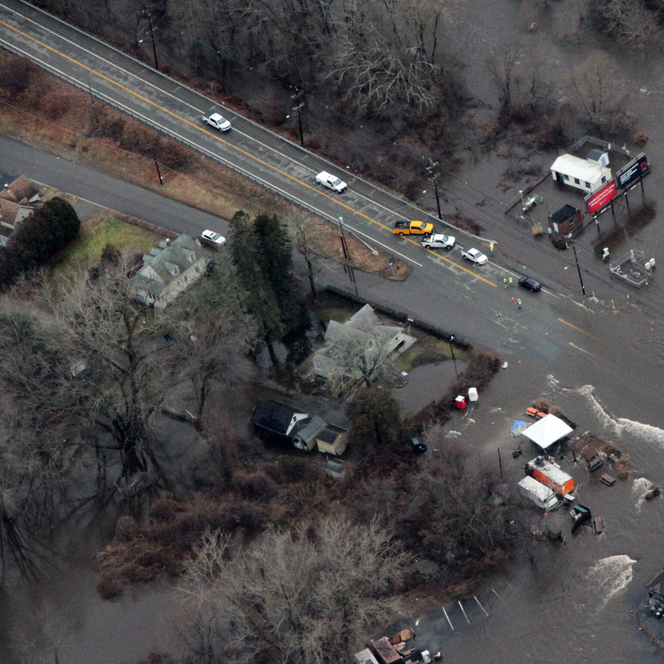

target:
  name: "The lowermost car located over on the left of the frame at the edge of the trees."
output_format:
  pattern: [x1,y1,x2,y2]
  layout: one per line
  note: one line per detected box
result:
[199,226,227,245]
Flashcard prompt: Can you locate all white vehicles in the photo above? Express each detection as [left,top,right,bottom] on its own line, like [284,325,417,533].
[457,245,488,266]
[199,226,227,245]
[420,235,456,250]
[315,170,346,192]
[200,112,230,132]
[518,476,565,520]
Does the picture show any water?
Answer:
Yes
